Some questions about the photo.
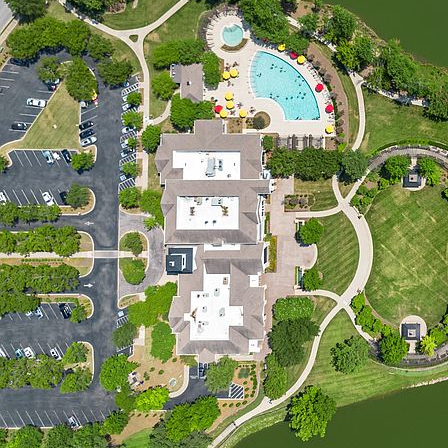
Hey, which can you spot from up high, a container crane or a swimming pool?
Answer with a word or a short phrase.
swimming pool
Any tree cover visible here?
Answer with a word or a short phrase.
Yes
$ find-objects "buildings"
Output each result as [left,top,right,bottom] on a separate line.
[403,168,423,187]
[171,63,206,101]
[401,320,422,340]
[156,121,278,362]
